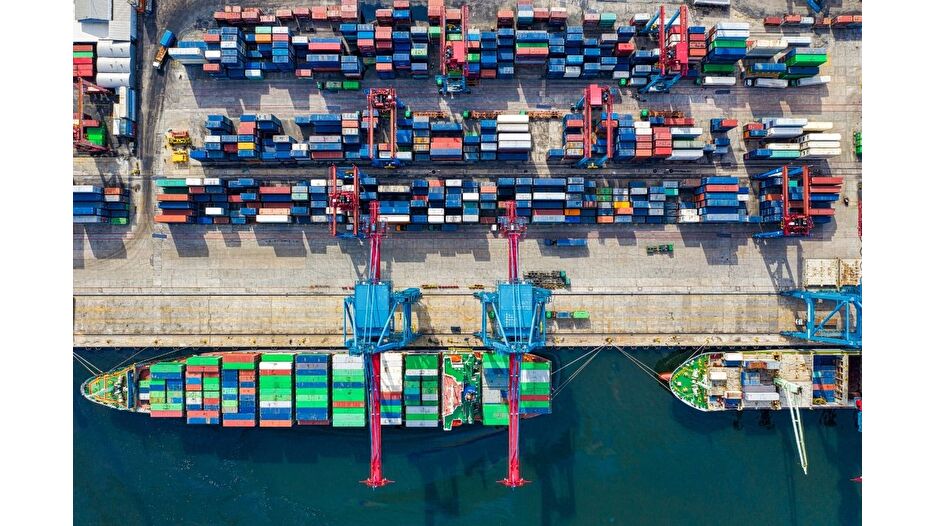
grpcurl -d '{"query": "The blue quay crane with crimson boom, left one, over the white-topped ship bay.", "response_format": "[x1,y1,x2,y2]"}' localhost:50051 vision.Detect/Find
[336,203,423,491]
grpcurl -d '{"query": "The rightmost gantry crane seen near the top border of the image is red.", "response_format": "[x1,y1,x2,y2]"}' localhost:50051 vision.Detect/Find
[636,5,688,92]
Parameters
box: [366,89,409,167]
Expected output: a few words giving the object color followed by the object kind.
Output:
red container crane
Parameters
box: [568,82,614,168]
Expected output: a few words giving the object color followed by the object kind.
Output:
red container crane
